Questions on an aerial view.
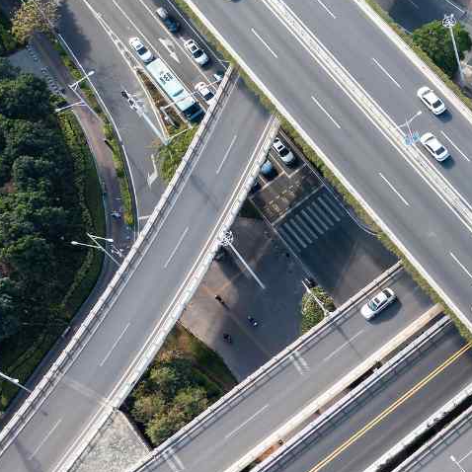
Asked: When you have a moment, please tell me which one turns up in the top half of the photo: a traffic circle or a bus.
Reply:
bus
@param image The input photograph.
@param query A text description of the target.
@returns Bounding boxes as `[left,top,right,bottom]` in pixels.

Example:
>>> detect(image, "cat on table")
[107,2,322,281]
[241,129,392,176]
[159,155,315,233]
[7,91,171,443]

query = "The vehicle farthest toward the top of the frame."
[154,7,180,34]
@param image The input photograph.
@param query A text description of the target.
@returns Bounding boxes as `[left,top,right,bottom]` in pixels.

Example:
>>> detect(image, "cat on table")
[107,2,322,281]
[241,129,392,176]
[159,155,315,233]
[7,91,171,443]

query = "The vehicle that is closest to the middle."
[251,182,266,200]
